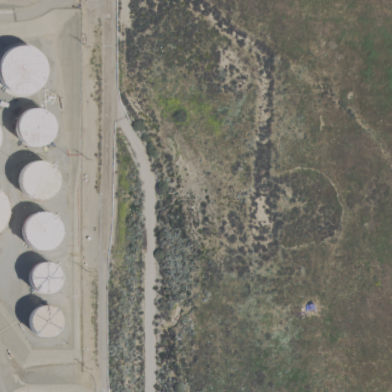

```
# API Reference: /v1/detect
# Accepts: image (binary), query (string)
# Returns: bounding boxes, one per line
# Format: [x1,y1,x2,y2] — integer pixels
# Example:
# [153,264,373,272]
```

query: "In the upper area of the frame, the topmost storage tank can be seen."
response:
[0,42,49,94]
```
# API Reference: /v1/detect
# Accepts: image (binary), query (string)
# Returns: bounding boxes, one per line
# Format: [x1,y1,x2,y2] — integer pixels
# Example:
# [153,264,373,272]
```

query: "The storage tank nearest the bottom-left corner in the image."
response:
[30,304,65,340]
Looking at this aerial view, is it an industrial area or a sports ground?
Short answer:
industrial area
